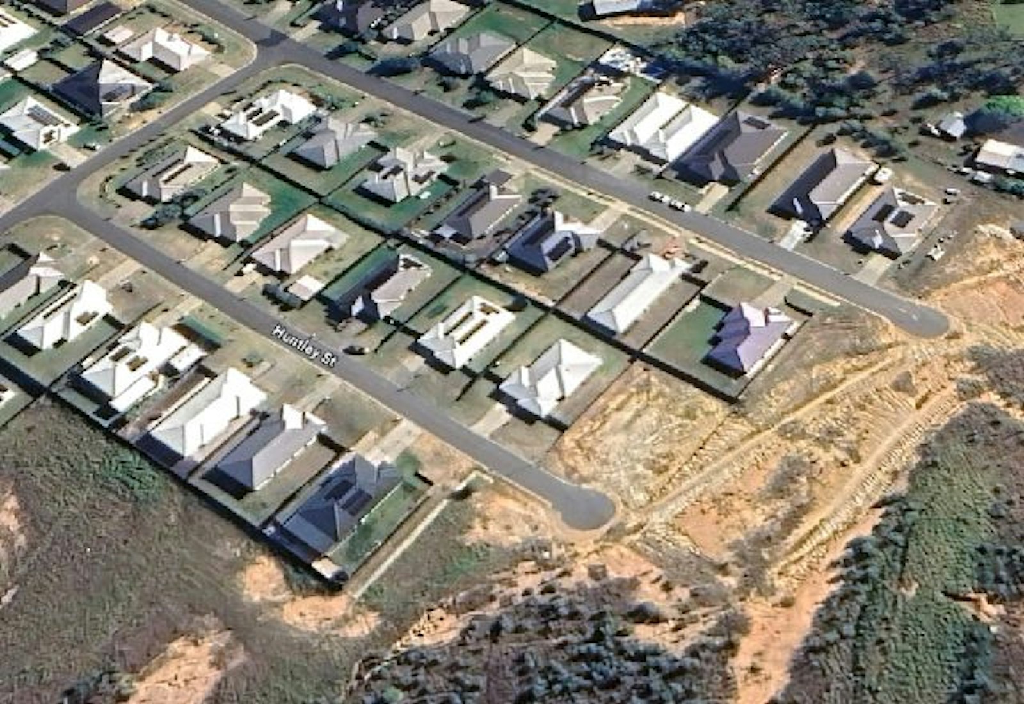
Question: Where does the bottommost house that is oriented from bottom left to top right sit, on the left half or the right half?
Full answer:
It is on the left.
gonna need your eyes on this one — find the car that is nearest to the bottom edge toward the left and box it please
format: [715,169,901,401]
[346,341,367,355]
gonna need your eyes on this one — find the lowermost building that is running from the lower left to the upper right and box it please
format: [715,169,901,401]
[283,452,403,551]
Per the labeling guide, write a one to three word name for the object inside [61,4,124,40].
shed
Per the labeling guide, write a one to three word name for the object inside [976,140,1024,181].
house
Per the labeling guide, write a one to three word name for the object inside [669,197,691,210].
vehicle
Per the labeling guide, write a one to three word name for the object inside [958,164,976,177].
vehicle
